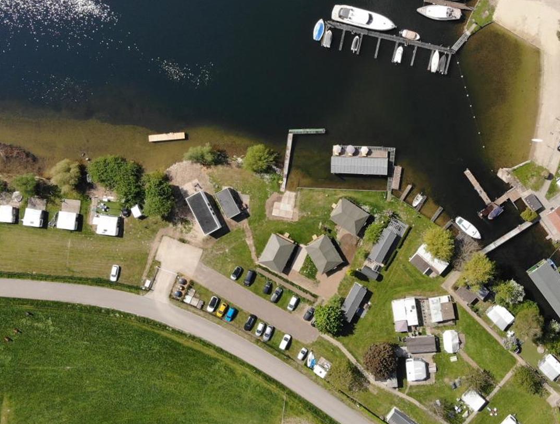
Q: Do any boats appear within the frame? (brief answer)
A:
Yes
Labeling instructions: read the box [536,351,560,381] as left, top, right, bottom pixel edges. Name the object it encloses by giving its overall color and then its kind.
white camper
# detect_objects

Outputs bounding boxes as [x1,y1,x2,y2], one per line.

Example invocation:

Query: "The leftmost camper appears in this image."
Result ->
[0,206,21,225]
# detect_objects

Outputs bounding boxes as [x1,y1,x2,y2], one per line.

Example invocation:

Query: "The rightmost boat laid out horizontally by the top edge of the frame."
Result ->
[413,4,464,23]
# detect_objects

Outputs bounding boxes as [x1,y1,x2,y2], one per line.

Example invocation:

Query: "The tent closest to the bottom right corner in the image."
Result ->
[462,384,485,410]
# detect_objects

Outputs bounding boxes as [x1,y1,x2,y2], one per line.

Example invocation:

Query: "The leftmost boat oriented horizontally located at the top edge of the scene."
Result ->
[327,3,400,33]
